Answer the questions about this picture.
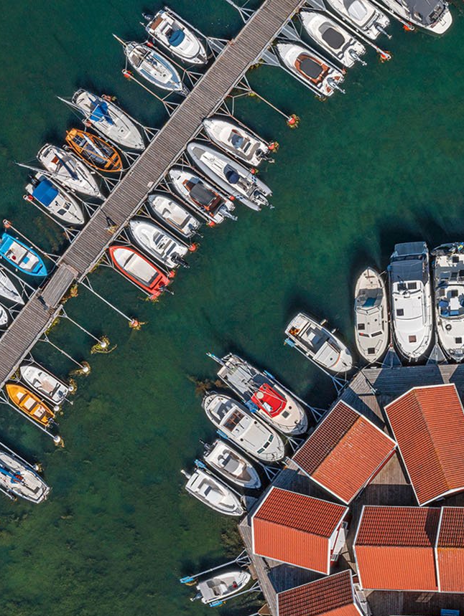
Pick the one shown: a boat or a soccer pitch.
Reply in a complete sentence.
It is a boat that can be seen here.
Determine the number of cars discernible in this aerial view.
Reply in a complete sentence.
The picture shows no cars.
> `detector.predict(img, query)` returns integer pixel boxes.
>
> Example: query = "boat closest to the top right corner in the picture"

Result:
[371,0,464,50]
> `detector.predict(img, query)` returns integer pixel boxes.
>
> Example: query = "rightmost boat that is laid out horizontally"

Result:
[436,231,464,243]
